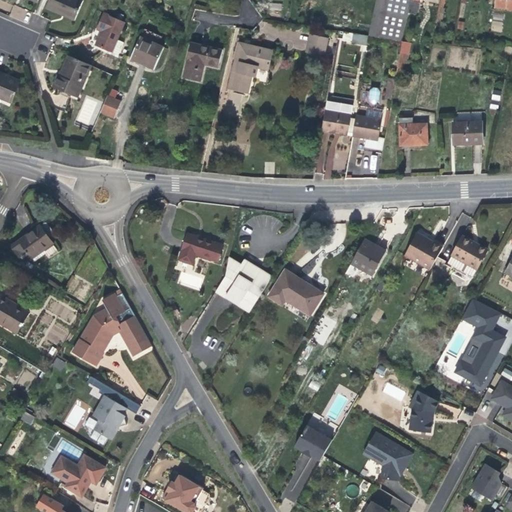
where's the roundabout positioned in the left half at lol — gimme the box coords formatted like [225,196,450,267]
[55,166,142,250]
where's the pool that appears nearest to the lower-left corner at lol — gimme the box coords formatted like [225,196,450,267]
[56,436,84,463]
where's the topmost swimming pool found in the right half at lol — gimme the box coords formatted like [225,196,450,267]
[448,332,467,355]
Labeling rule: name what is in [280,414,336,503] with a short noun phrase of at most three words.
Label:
house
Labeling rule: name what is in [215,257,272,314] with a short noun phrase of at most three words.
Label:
building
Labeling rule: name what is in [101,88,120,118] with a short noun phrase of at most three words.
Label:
shed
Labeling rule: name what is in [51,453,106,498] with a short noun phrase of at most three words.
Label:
house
